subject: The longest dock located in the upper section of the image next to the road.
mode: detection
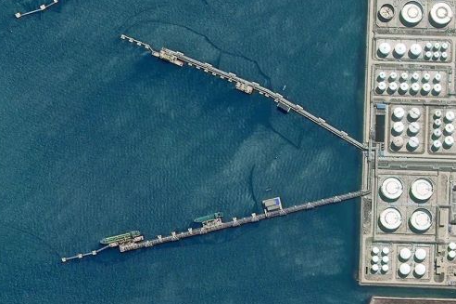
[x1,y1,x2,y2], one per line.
[163,48,369,150]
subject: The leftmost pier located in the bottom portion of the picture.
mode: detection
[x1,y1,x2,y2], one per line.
[120,190,370,252]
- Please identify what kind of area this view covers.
industrial area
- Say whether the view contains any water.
Yes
